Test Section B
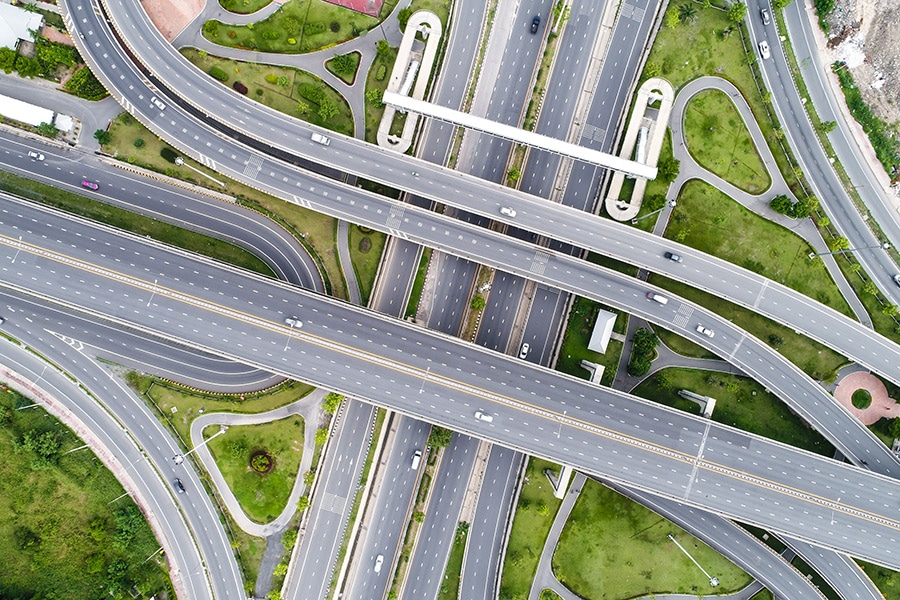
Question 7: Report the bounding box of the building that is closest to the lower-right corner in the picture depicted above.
[593,309,624,353]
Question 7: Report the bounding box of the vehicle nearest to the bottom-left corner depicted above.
[173,477,186,495]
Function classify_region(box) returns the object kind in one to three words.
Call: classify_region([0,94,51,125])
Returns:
shed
